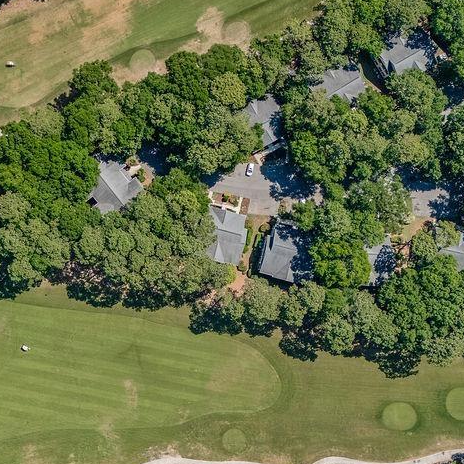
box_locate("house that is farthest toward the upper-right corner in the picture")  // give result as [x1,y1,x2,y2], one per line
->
[367,25,437,80]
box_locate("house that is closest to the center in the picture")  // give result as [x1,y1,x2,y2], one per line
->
[205,202,249,265]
